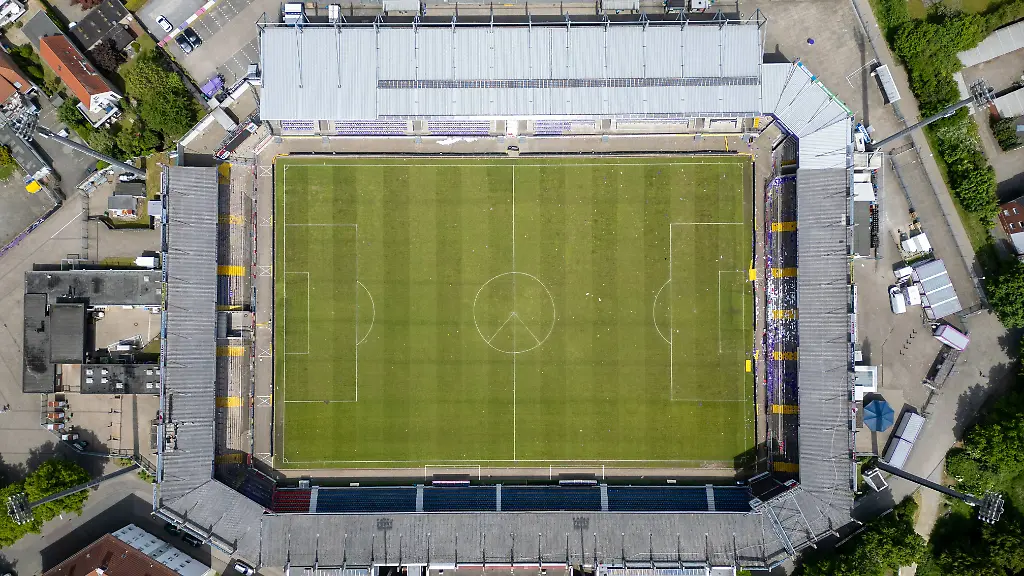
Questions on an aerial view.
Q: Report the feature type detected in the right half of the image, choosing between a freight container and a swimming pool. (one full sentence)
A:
Looking in the right half of the image, you will find a freight container.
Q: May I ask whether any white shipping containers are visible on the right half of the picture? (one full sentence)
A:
Yes, on the right half of the picture there is a white shipping container.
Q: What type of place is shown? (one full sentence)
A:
The picture captures a sports ground.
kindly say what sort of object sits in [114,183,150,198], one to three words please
shed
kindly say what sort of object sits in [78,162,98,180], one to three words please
car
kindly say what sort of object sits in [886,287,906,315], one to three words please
vehicle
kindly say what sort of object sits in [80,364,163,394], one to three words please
building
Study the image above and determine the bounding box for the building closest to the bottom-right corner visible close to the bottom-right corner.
[859,466,888,491]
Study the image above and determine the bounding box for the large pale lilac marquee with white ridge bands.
[909,260,962,320]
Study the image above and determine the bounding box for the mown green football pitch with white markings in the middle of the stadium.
[274,156,753,469]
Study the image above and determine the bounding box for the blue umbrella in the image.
[861,401,893,432]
